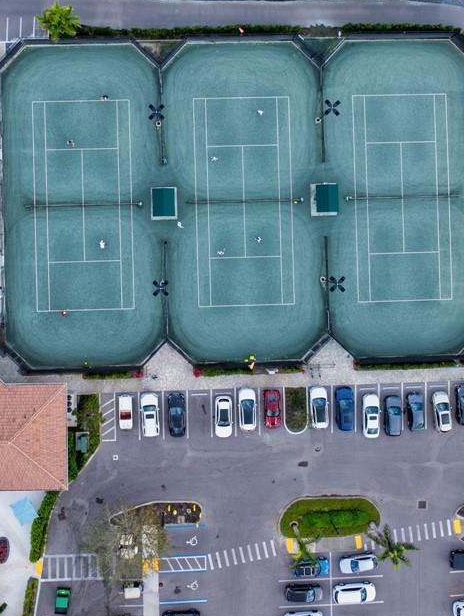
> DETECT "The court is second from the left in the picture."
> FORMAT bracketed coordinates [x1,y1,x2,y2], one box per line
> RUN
[159,43,328,366]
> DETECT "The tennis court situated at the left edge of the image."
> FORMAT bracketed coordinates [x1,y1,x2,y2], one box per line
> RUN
[1,44,165,370]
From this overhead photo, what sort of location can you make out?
sports ground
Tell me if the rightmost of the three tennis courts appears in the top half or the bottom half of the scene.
top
